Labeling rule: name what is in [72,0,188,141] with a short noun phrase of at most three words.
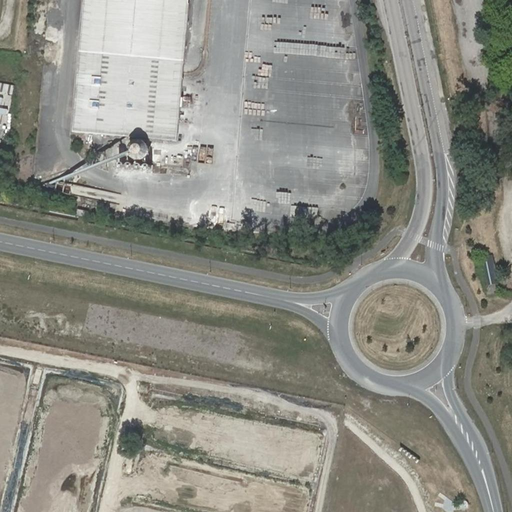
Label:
building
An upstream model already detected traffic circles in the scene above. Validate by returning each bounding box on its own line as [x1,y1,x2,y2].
[330,260,466,396]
